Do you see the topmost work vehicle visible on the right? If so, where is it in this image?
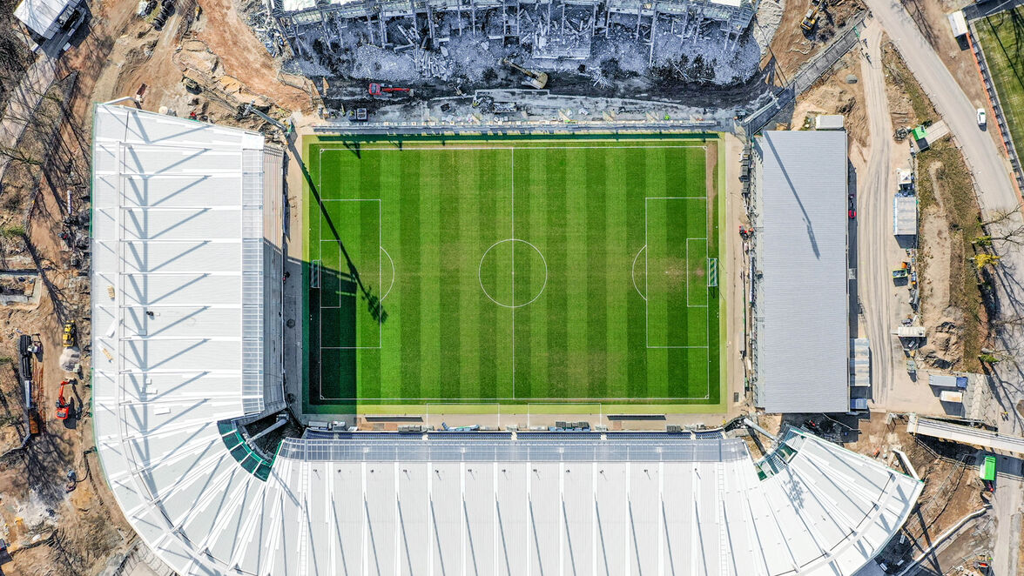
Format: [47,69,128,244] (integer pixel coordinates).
[800,0,832,32]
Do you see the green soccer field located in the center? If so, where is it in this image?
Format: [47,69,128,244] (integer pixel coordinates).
[301,131,727,426]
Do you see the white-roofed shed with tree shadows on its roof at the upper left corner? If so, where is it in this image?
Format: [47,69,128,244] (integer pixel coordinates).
[11,0,90,36]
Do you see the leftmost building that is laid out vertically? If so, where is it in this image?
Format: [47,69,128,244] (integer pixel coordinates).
[849,336,870,386]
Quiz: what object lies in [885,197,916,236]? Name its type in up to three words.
building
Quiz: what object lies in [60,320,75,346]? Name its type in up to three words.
work vehicle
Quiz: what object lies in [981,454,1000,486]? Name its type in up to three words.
vehicle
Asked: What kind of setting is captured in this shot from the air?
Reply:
sports ground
